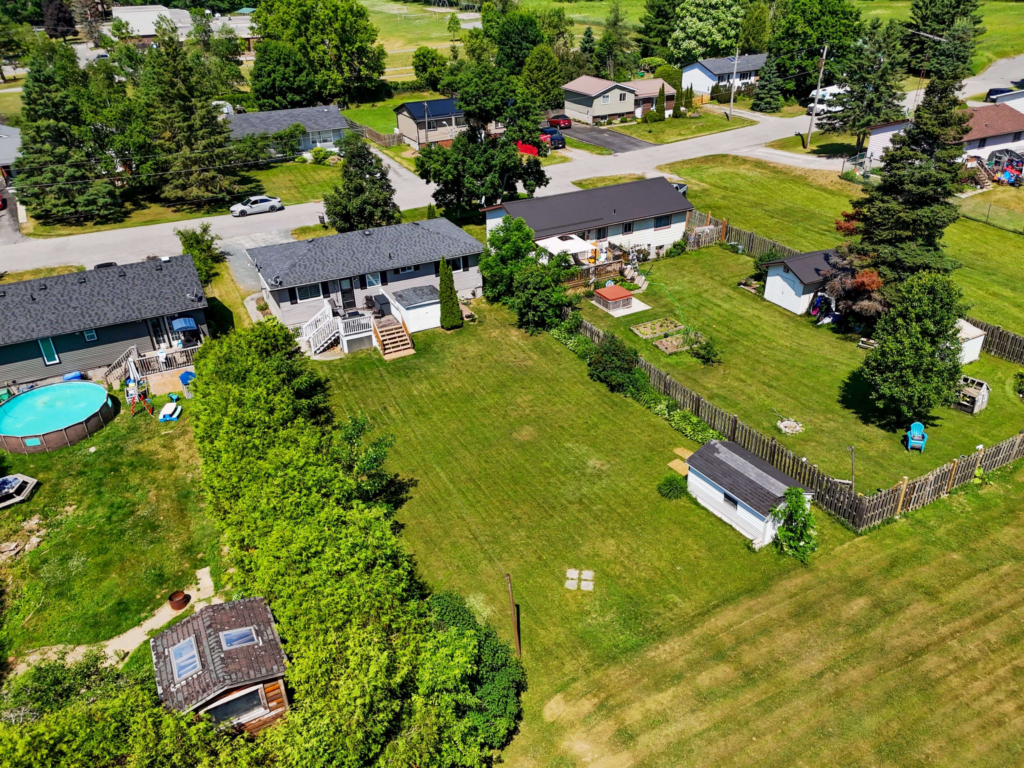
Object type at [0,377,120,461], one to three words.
swimming pool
